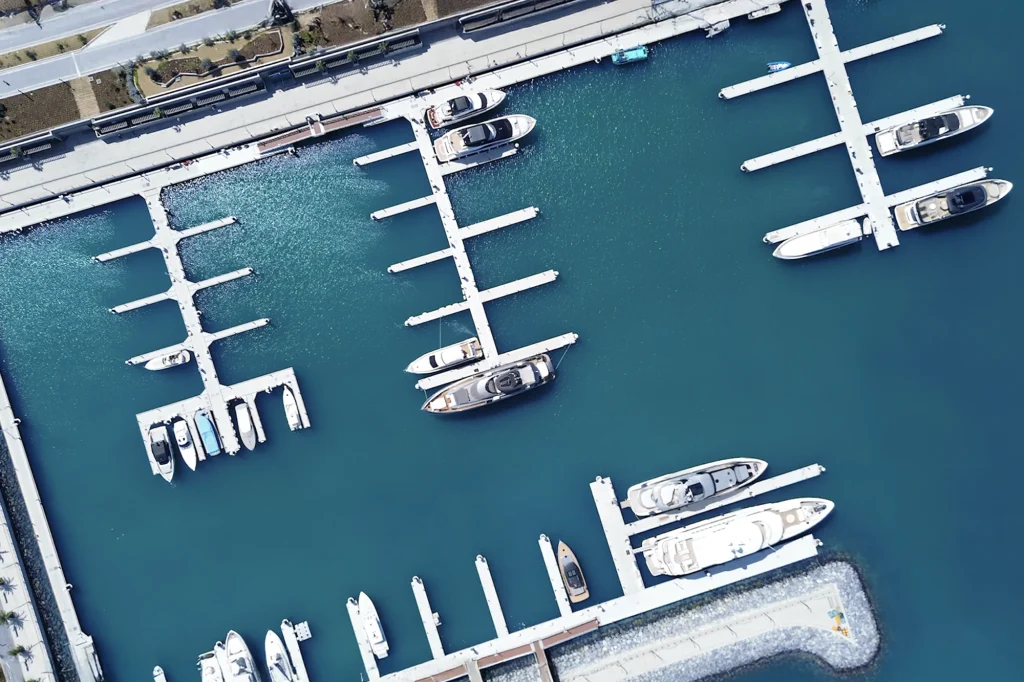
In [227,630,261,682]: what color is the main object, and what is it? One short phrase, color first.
white boat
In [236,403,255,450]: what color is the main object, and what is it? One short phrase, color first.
white boat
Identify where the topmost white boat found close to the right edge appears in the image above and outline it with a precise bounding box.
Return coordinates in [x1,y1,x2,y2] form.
[871,107,995,157]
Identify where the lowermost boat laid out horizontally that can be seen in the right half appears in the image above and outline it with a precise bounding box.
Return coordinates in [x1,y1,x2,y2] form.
[631,499,834,580]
